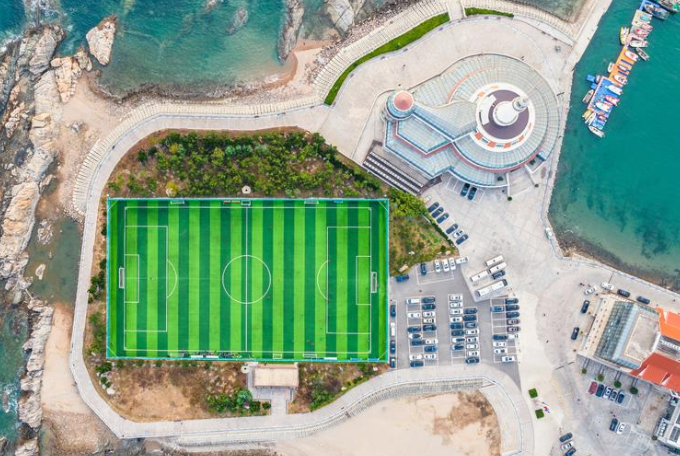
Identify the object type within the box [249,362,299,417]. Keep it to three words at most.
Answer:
building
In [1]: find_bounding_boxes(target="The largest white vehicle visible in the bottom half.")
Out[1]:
[474,279,507,296]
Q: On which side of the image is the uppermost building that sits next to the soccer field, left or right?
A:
right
